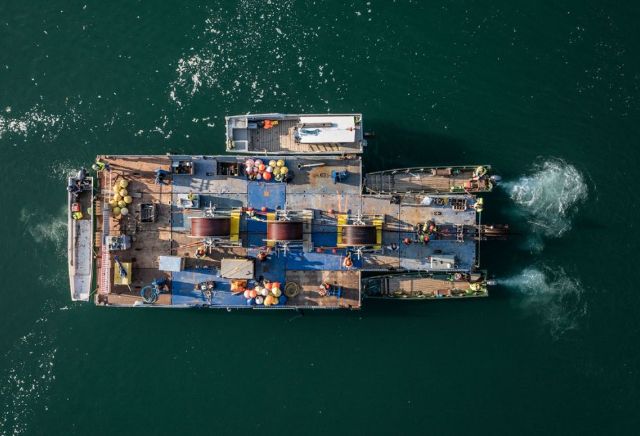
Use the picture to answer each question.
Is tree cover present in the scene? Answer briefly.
No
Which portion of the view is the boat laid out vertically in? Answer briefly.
left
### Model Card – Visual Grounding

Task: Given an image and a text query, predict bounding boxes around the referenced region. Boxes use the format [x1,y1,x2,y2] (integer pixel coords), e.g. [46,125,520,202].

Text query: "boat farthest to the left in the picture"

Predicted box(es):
[69,155,97,302]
